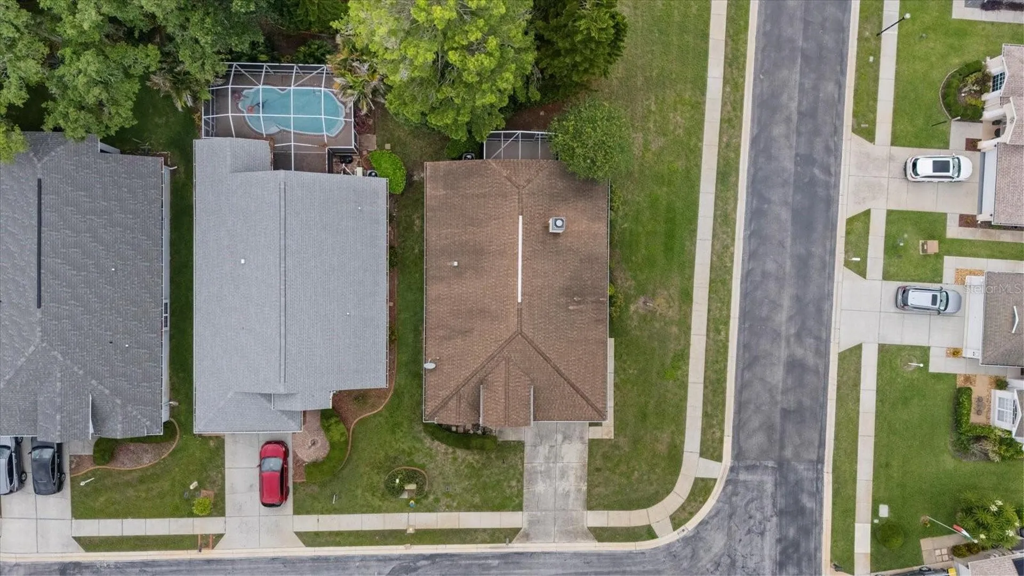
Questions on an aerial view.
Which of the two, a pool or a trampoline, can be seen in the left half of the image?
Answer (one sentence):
Looking in the left half of the image, you will find a pool.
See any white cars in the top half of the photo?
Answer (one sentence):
Yes, in the top half of the photo there is a white car.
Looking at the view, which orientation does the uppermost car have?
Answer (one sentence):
The uppermost car runs from left to right in the image.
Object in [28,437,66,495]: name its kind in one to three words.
car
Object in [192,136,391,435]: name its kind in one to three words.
house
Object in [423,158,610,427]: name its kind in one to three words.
house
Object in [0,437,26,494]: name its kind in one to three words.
car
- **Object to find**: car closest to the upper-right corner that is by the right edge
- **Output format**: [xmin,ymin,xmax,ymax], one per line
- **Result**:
[903,151,973,185]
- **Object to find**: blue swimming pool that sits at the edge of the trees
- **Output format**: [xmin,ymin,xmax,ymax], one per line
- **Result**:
[238,84,346,137]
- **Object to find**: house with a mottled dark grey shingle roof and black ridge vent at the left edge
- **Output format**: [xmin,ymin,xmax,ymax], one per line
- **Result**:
[0,131,178,443]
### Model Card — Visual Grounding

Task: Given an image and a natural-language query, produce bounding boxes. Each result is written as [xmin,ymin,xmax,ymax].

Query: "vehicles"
[0,437,26,494]
[255,441,290,505]
[903,151,973,185]
[28,437,66,495]
[893,284,962,318]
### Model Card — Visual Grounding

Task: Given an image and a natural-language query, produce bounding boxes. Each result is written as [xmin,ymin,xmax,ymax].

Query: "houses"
[963,269,1024,438]
[956,545,1024,576]
[0,131,178,443]
[423,158,610,427]
[192,136,391,435]
[977,42,1024,228]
